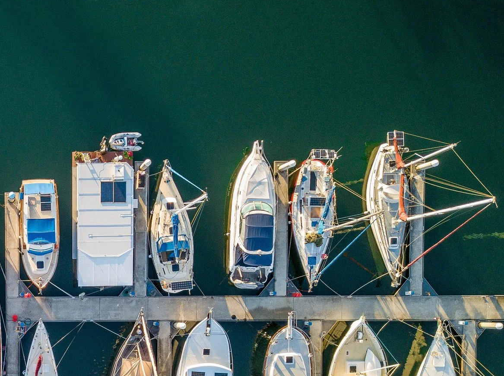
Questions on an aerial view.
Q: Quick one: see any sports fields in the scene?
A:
No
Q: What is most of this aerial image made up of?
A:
water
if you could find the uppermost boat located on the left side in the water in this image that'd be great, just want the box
[109,132,142,152]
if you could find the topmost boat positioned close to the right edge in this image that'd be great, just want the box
[367,131,501,288]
